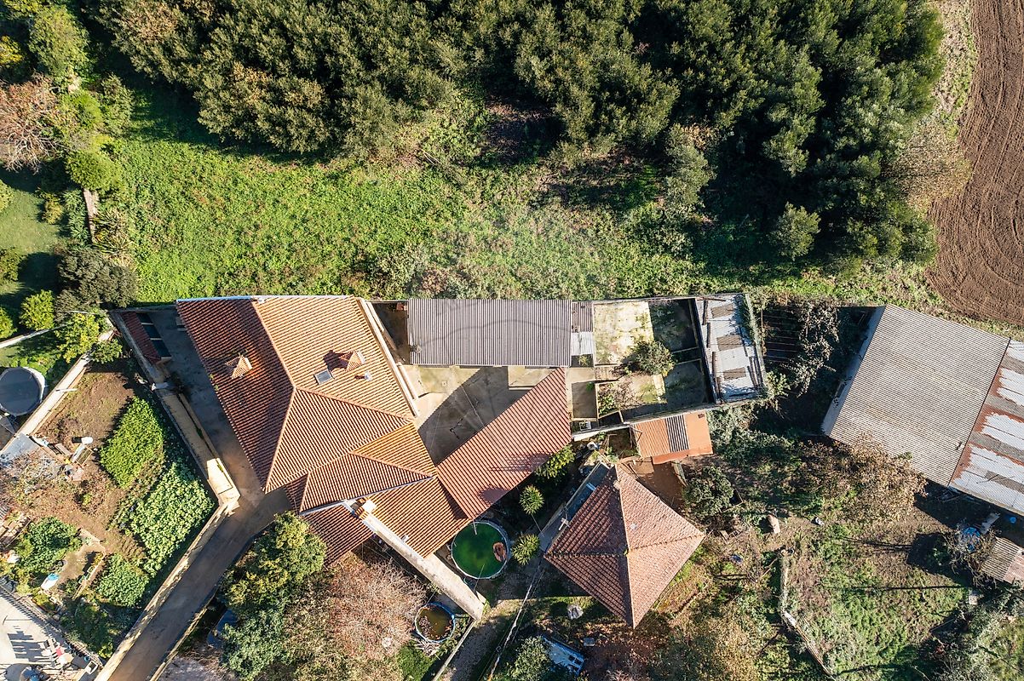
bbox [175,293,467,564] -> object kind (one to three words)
house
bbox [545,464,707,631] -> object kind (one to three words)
house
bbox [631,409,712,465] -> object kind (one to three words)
shed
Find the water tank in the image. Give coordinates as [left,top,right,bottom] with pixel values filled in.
[569,382,600,420]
